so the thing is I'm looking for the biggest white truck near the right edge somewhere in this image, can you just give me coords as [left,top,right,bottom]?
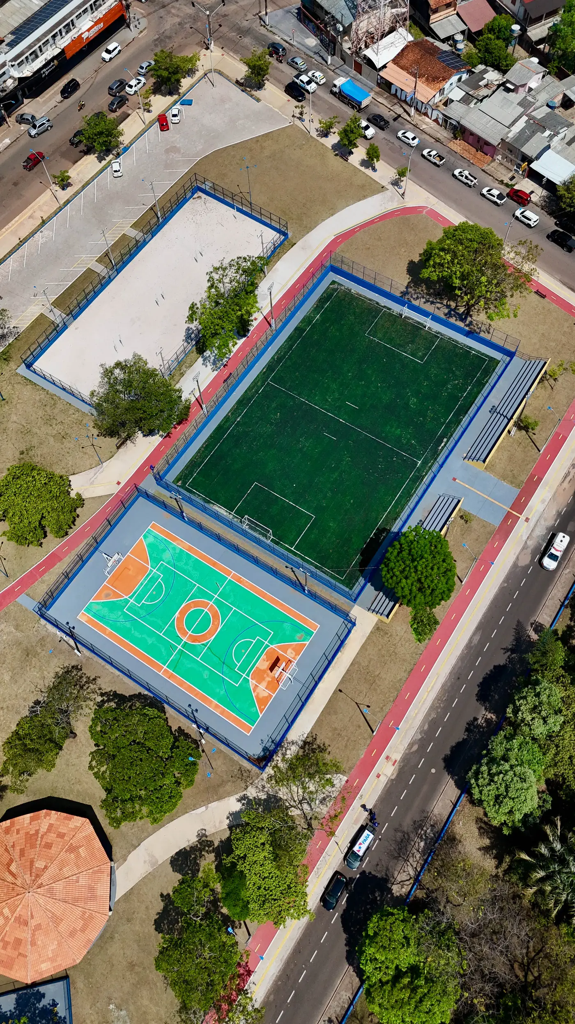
[544,531,572,572]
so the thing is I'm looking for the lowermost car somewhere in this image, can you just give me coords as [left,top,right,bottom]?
[320,871,347,913]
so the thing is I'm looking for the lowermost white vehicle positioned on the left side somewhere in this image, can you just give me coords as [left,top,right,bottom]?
[109,160,123,178]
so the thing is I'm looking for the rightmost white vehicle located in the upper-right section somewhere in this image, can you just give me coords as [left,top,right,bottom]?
[512,209,542,228]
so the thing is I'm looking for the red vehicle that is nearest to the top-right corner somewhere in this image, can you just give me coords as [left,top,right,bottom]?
[505,189,534,208]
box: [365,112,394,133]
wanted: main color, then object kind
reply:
black truck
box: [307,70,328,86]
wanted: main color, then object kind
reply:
white car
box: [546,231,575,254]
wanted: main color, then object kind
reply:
black truck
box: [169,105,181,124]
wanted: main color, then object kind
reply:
white vehicle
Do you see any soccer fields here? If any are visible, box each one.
[160,269,511,602]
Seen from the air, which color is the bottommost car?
black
